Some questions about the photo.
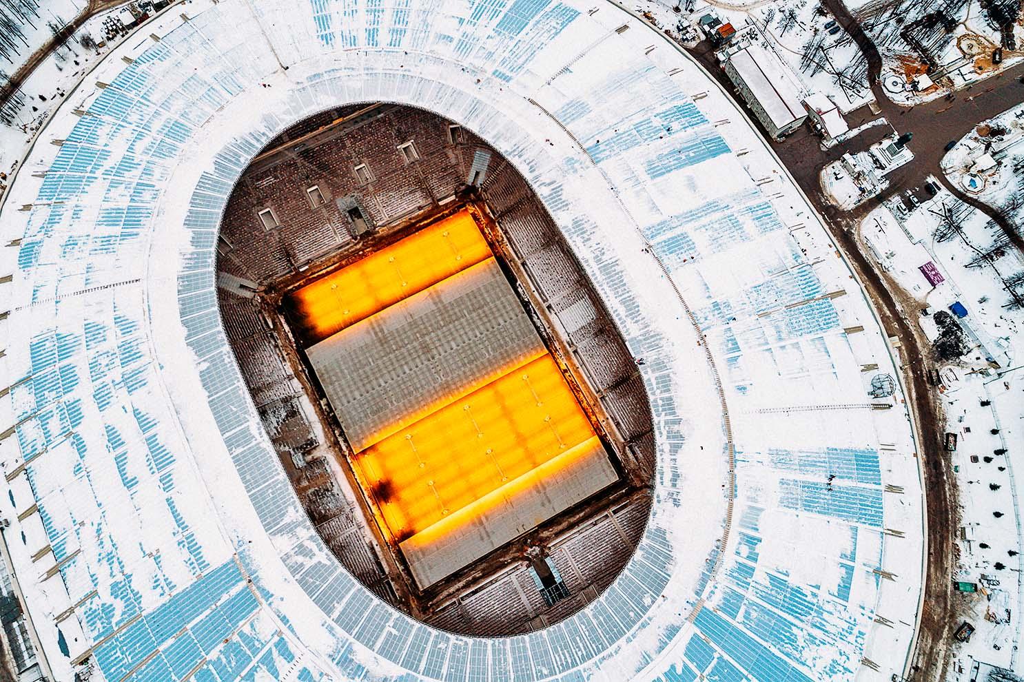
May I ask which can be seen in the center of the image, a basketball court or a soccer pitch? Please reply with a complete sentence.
The one visible in the center of the image is a soccer pitch.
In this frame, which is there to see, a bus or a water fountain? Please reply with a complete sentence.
Of the two, only a water fountain appears.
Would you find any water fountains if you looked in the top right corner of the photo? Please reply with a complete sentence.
Yes, a water fountain can be seen in the top right corner of the photo.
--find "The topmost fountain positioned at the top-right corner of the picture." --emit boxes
[880,69,911,97]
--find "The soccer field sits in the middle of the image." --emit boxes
[285,210,620,590]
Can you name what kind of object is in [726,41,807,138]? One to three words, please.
building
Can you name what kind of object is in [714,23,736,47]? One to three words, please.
house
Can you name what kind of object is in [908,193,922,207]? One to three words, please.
car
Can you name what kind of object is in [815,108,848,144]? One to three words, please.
building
